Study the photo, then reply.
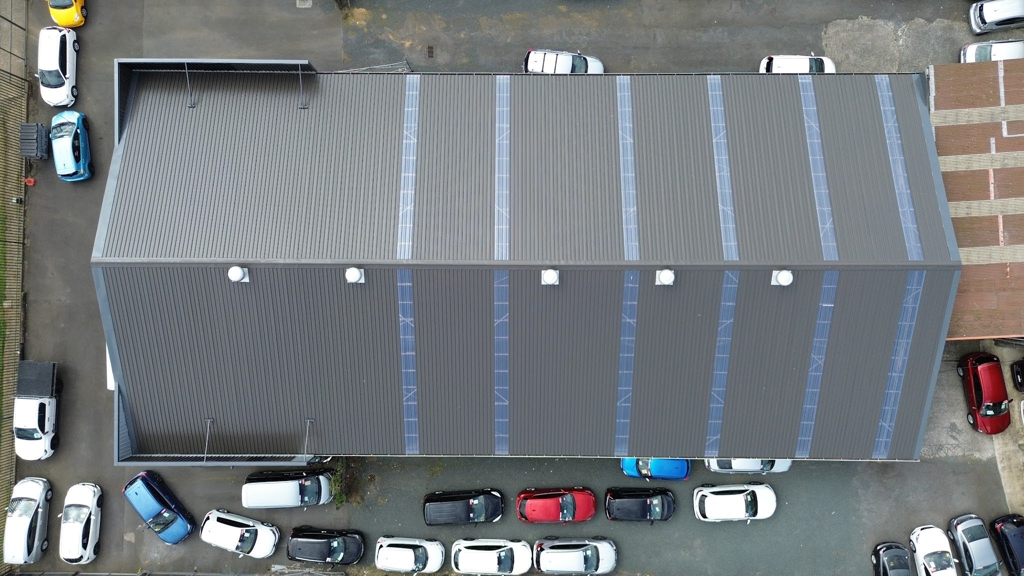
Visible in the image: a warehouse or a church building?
warehouse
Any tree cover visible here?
No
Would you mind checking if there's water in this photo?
No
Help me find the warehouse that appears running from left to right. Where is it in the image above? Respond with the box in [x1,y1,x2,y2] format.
[90,59,962,466]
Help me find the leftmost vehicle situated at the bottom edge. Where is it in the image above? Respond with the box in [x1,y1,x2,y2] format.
[5,477,54,563]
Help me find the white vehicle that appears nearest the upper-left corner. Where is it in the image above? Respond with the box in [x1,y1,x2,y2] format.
[35,30,83,107]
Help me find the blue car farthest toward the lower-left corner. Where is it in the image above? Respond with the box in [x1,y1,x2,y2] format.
[126,468,193,541]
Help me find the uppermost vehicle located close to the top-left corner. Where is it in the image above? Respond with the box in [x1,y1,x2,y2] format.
[45,0,92,29]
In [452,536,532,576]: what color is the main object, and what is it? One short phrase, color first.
white car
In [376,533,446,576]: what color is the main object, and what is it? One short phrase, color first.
white car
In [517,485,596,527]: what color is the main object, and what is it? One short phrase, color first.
red car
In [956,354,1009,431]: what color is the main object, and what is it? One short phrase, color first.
red car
